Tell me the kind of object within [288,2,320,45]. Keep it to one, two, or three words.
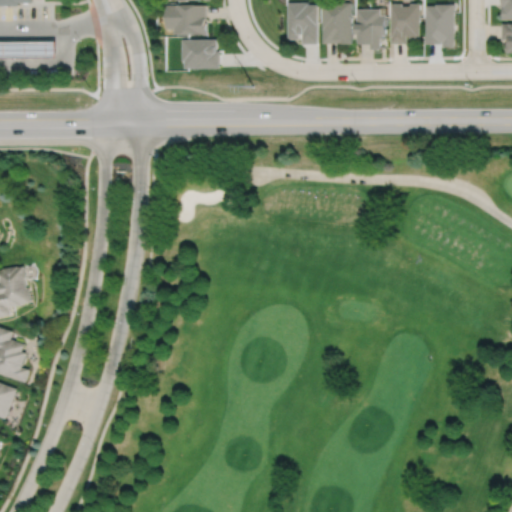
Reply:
house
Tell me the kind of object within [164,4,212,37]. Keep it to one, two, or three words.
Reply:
house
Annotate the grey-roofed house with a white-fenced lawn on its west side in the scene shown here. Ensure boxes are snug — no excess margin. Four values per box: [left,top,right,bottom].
[182,39,222,70]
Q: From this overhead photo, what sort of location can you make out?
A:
golf course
